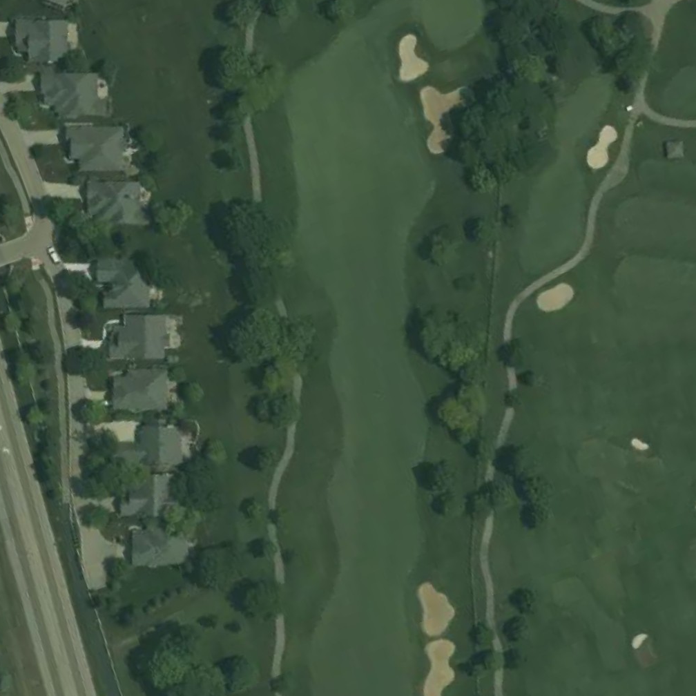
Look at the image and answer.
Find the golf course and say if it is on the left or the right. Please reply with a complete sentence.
The golf course appears in the right half of the scene.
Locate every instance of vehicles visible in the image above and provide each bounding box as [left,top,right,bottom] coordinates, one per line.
[626,105,633,111]
[47,245,62,264]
